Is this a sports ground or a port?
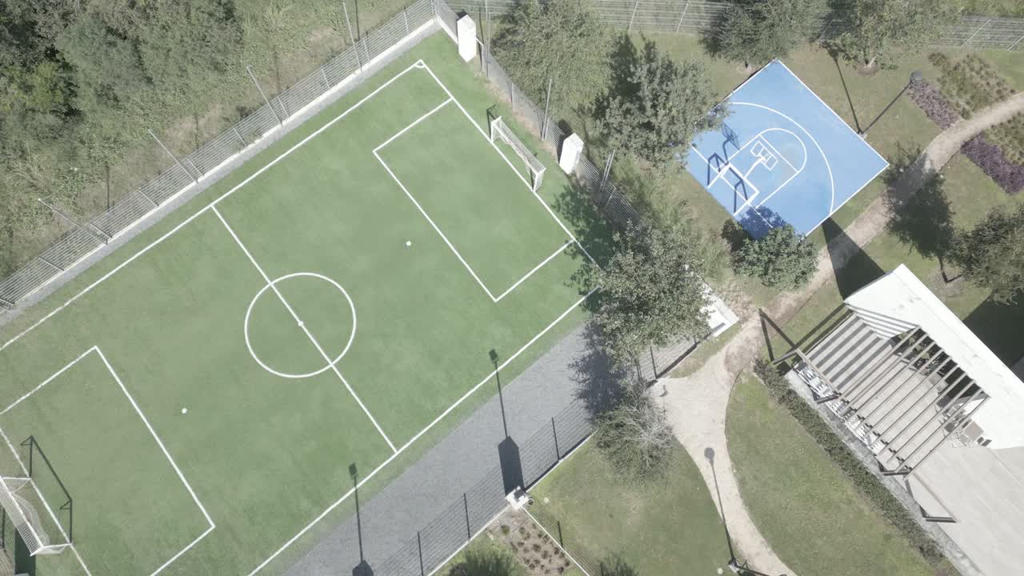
sports ground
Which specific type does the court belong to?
basketball court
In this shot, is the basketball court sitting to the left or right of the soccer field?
right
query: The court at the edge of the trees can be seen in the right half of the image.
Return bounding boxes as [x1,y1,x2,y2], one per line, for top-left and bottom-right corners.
[668,61,889,252]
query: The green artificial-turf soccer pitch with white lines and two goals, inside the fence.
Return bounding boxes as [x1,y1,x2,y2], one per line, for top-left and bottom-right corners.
[0,30,666,576]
